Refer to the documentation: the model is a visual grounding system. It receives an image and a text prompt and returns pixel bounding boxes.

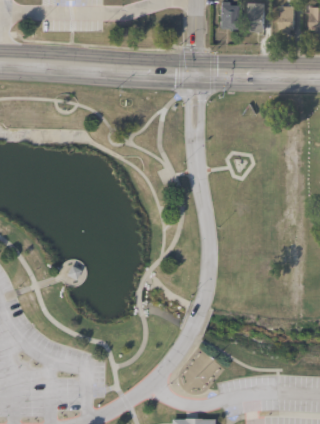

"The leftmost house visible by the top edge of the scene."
[221,2,240,31]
